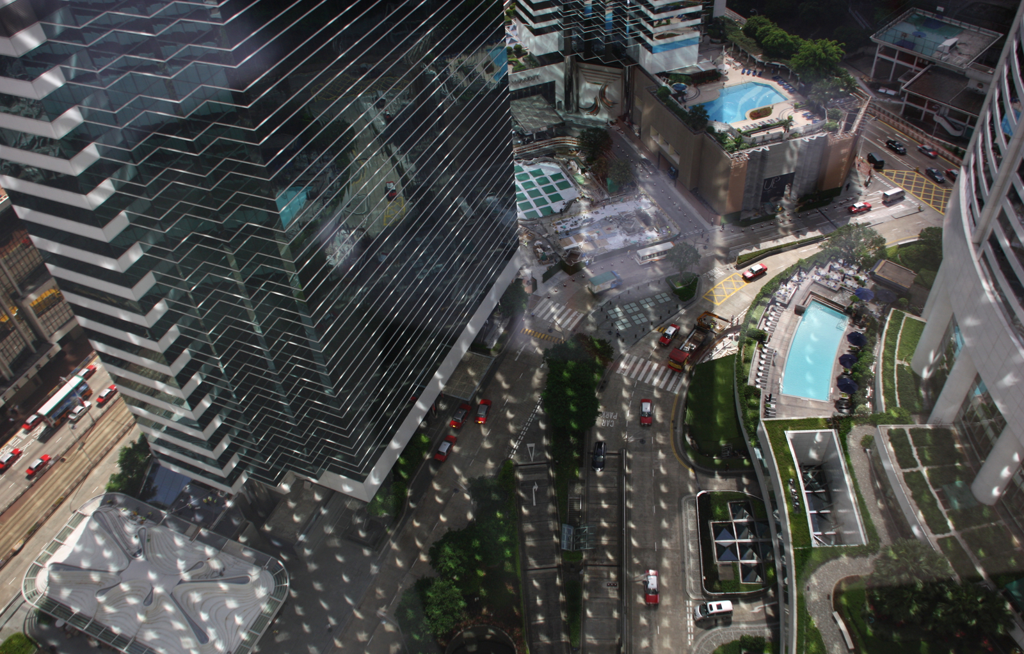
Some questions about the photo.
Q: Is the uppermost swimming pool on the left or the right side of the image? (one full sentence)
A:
The uppermost swimming pool appears in the right half of the scene.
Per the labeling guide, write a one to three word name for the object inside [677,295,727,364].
truck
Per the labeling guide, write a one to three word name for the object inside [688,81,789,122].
swimming pool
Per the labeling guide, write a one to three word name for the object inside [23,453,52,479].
car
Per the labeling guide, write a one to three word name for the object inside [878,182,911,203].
vehicle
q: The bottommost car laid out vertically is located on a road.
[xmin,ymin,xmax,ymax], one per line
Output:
[644,569,661,607]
